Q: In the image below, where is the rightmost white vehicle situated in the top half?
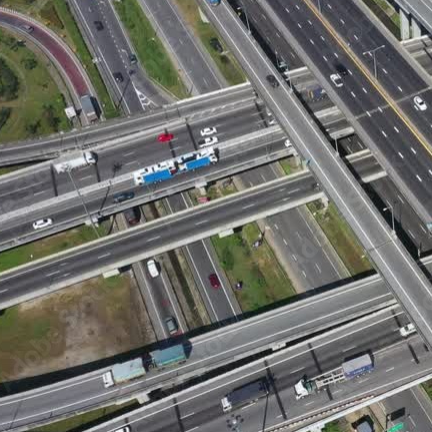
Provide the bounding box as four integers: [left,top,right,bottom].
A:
[412,97,426,110]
